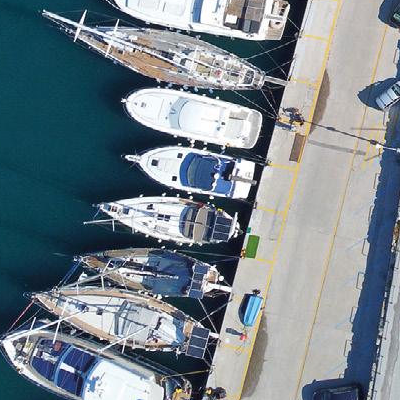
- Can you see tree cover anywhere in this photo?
No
